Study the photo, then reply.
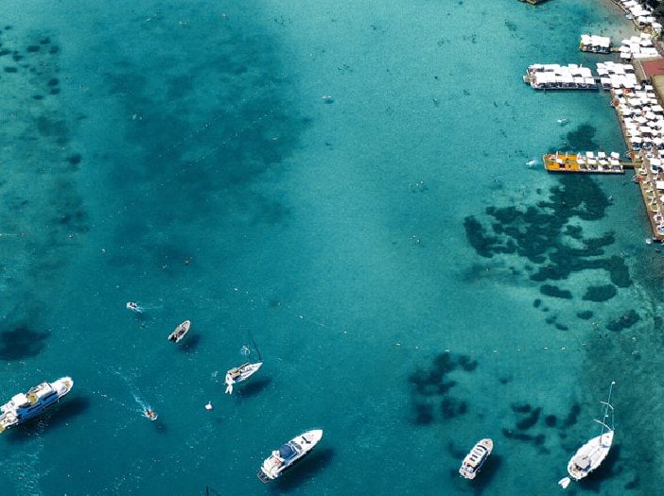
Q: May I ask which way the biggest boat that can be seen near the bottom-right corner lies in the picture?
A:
on a diagonal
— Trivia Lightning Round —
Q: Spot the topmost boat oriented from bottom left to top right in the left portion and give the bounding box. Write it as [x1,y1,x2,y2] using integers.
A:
[168,322,189,342]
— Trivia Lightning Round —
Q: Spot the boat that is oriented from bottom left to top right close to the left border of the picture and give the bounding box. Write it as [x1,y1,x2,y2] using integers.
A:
[0,373,67,437]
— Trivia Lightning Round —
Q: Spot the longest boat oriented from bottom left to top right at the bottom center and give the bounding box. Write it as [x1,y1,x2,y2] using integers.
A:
[253,425,328,487]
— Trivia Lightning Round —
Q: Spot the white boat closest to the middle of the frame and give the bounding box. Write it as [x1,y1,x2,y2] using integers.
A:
[223,334,262,387]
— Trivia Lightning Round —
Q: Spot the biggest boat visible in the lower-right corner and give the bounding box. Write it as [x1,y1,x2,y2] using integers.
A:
[562,396,614,485]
